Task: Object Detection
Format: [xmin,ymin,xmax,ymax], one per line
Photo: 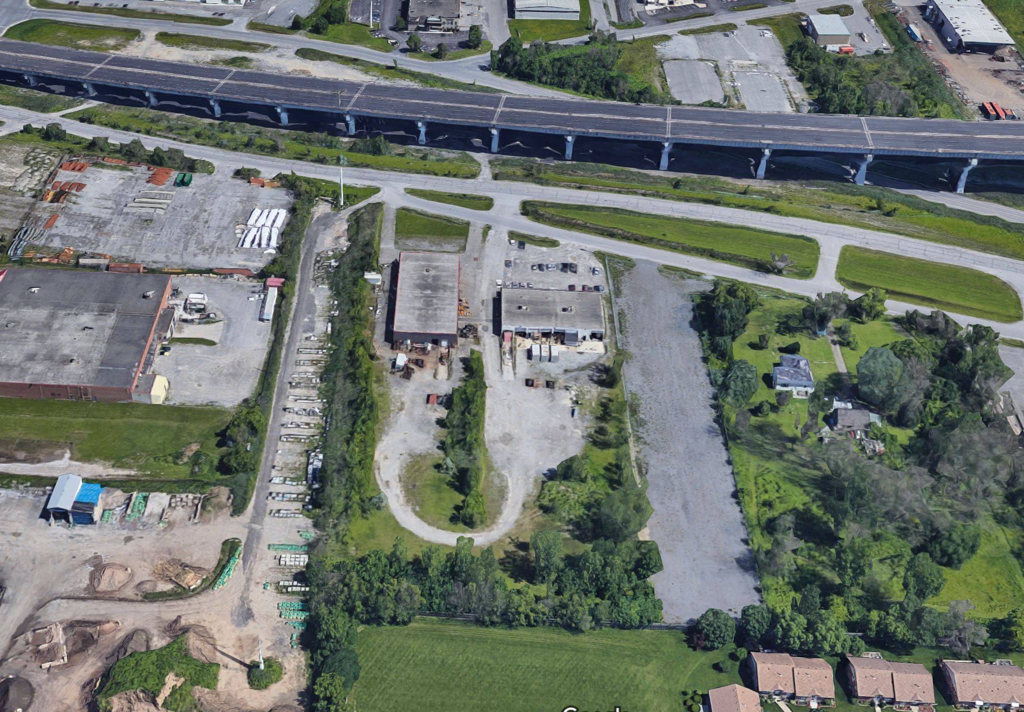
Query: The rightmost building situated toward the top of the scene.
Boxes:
[918,0,1016,61]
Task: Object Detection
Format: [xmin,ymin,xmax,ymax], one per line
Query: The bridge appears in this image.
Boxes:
[0,45,1024,190]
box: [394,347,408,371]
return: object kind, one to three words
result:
vehicle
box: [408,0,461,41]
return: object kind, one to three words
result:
building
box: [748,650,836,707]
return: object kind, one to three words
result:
house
